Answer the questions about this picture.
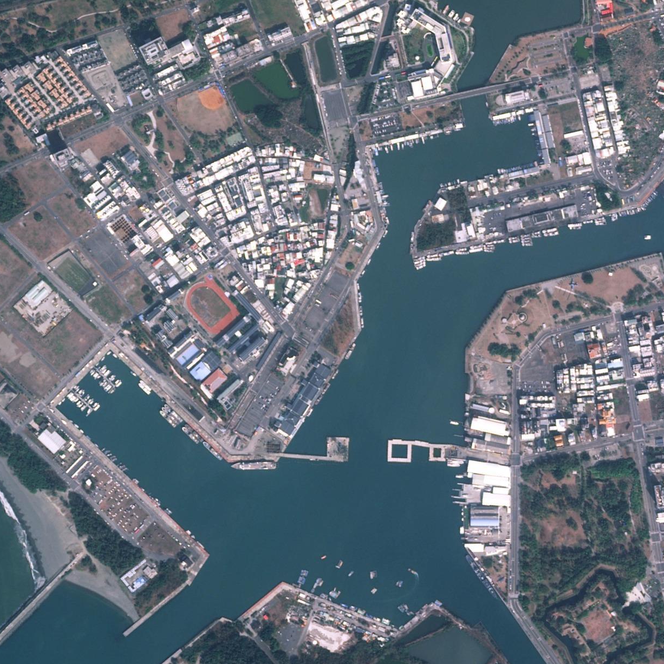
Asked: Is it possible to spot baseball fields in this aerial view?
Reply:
Yes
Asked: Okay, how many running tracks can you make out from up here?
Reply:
1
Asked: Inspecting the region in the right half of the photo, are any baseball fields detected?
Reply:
No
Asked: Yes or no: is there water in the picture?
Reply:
Yes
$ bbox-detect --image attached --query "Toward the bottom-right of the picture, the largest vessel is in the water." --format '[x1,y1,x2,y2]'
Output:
[468,557,497,600]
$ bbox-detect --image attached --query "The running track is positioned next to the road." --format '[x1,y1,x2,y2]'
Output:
[185,275,238,334]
